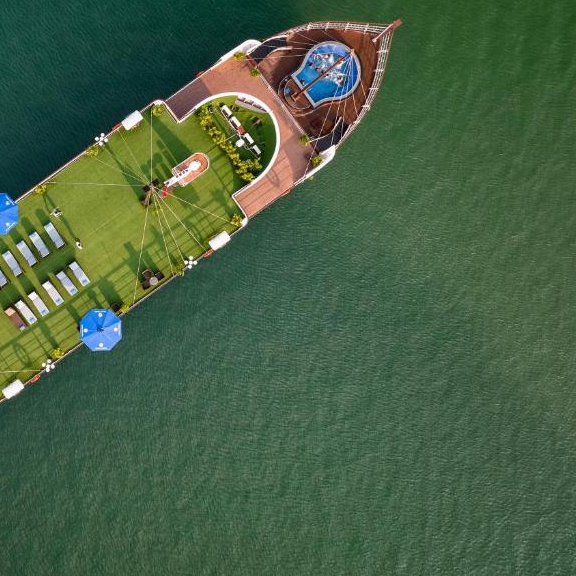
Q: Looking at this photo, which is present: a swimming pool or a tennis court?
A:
swimming pool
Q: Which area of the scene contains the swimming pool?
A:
top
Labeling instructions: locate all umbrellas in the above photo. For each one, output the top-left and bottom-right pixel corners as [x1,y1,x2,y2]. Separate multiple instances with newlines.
[0,192,20,234]
[79,309,121,351]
